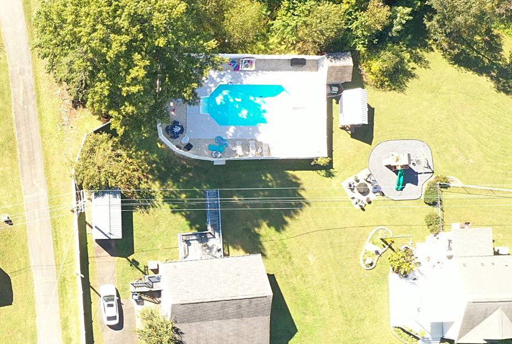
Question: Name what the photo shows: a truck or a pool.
pool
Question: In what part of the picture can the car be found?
bottom left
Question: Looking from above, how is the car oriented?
from top to bottom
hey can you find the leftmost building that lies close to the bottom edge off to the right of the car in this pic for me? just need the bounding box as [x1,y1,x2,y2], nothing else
[159,254,277,344]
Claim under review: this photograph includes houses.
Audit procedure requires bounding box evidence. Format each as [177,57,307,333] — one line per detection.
[412,224,512,344]
[159,254,277,344]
